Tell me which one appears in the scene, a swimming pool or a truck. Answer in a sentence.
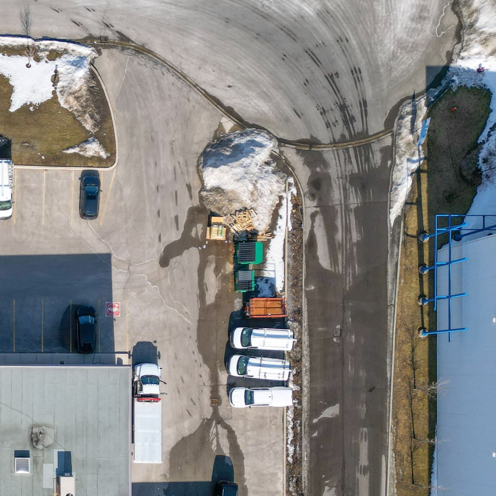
Looking from above, you can make out a truck.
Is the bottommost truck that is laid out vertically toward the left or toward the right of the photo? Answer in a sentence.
The bottommost truck that is laid out vertically sits on the left side.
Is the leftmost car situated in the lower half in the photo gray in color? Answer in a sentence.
No, the leftmost car situated in the lower half is black.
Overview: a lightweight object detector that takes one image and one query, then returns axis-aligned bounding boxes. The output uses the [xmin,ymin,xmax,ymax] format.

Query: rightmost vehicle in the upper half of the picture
[79,176,103,220]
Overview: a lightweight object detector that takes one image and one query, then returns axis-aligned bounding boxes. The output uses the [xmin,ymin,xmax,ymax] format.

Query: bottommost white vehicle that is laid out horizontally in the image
[228,385,297,410]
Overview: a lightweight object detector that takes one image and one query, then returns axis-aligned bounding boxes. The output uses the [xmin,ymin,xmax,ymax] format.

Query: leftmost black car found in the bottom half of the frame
[74,306,100,352]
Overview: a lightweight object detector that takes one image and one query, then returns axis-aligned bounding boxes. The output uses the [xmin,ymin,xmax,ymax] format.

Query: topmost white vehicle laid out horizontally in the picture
[227,326,301,351]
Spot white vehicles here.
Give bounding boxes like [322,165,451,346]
[228,385,297,410]
[224,353,298,380]
[129,355,165,464]
[227,326,301,351]
[0,159,16,220]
